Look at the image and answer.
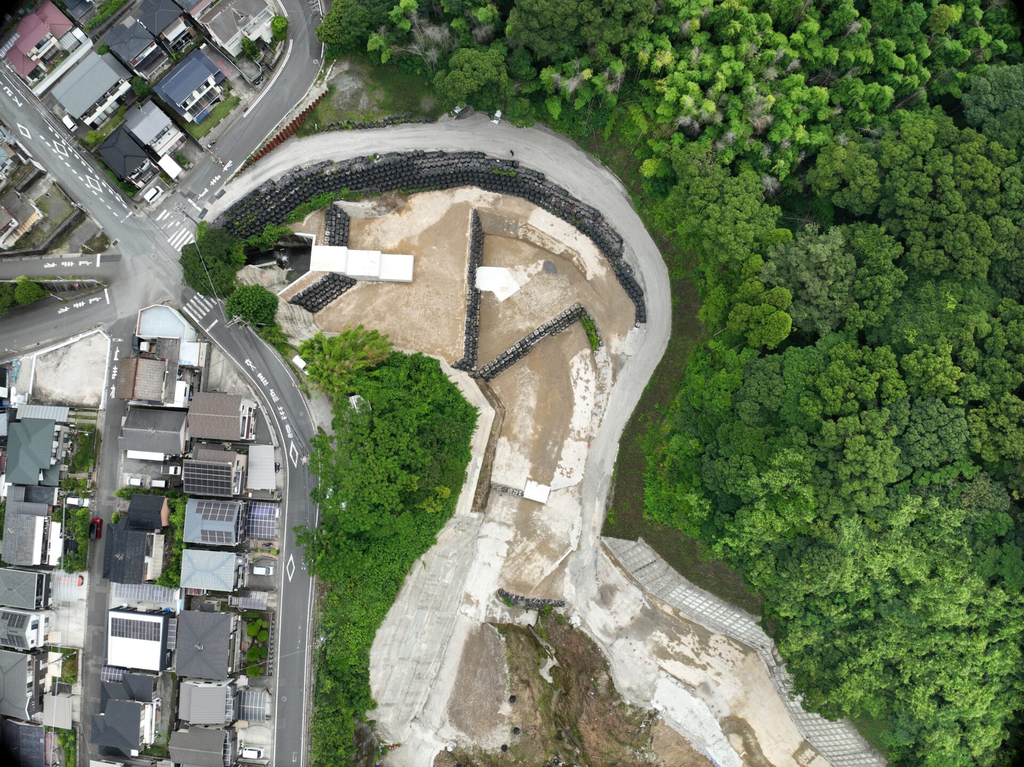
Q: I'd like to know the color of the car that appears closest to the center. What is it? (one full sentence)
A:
The color of the car that appears closest to the center is white.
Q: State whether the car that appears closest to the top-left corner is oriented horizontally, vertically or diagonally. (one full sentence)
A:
What the image shows is the car that appears closest to the top-left corner lying diagonally.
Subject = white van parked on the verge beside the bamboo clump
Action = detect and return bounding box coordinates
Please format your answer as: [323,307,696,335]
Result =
[288,354,309,374]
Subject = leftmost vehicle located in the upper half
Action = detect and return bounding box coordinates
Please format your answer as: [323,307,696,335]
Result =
[57,111,81,134]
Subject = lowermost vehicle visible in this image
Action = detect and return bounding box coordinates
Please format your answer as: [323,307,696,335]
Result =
[241,745,266,759]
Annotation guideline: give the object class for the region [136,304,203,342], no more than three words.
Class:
building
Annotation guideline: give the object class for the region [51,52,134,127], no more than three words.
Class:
house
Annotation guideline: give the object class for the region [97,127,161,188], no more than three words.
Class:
house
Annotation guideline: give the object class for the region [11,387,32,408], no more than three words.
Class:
shed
